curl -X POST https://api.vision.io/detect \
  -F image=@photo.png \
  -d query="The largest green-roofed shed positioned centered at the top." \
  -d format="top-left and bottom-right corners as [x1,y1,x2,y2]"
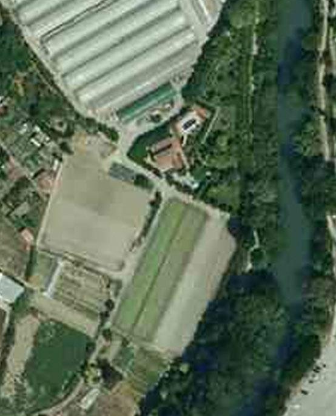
[117,84,178,122]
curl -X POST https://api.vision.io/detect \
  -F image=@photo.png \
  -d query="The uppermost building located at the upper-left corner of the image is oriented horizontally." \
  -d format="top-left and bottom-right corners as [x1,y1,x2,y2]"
[11,0,108,39]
